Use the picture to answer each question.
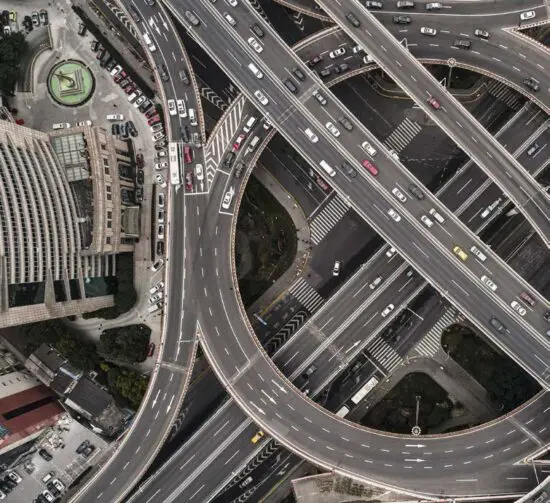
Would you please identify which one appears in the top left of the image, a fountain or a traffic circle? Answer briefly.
fountain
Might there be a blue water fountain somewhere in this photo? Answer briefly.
No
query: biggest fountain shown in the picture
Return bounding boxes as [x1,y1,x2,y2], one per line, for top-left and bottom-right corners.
[46,58,93,106]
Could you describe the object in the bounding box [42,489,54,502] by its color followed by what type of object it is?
white vehicle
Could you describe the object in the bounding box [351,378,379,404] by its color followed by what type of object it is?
white bus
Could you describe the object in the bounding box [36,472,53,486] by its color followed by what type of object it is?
white vehicle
